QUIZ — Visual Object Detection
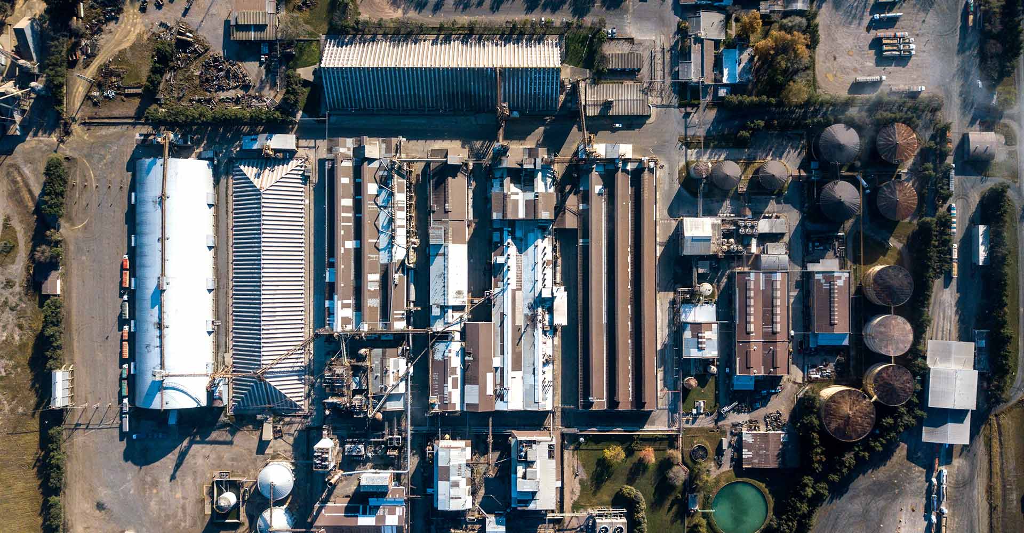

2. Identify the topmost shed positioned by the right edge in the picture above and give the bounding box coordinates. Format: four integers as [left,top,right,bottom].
[960,133,997,162]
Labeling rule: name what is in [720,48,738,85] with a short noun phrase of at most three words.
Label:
house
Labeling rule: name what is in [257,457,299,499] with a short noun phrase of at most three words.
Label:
storage tank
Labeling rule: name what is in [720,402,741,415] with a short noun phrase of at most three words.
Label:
vehicle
